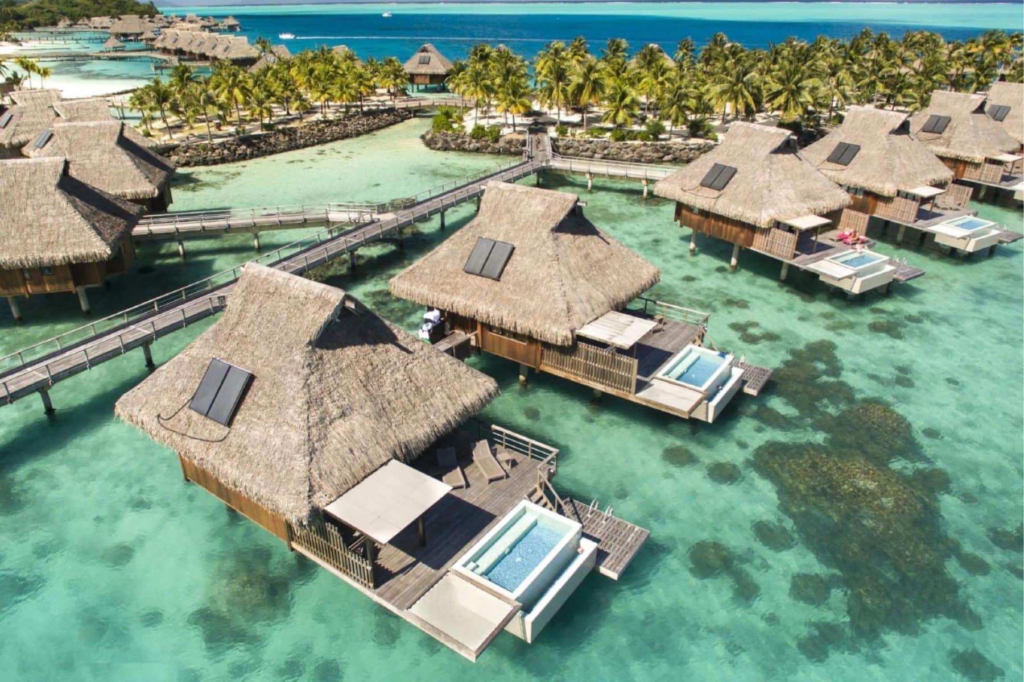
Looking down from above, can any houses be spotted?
Yes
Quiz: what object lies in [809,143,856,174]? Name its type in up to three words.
solar panel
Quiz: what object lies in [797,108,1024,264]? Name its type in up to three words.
house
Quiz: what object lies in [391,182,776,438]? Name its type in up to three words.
house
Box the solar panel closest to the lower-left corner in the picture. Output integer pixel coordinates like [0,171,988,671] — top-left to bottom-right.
[172,355,253,439]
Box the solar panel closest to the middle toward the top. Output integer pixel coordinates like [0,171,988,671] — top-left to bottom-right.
[459,245,507,288]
